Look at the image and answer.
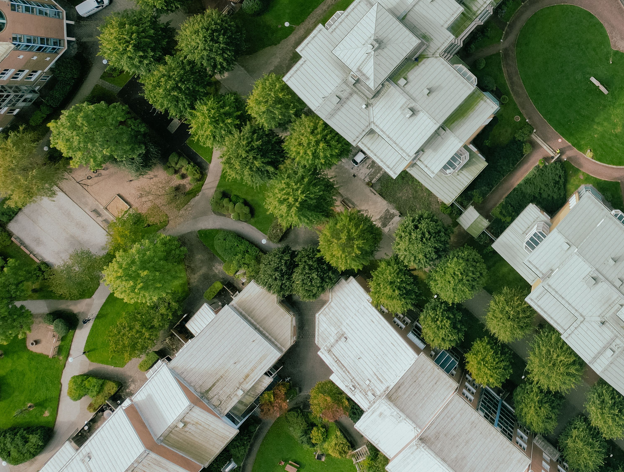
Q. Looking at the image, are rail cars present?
No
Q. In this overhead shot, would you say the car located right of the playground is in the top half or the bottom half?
top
